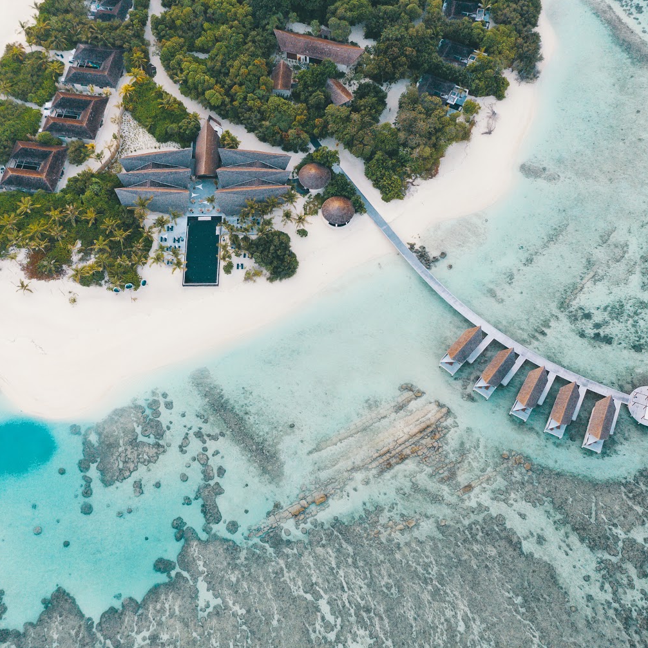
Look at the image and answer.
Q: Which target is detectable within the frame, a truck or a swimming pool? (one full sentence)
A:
Of the two, only a swimming pool appears.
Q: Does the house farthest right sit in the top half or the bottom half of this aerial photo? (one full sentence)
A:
It is in the bottom half that the house farthest right appears.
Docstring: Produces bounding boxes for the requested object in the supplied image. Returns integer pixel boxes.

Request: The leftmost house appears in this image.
[0,140,68,194]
